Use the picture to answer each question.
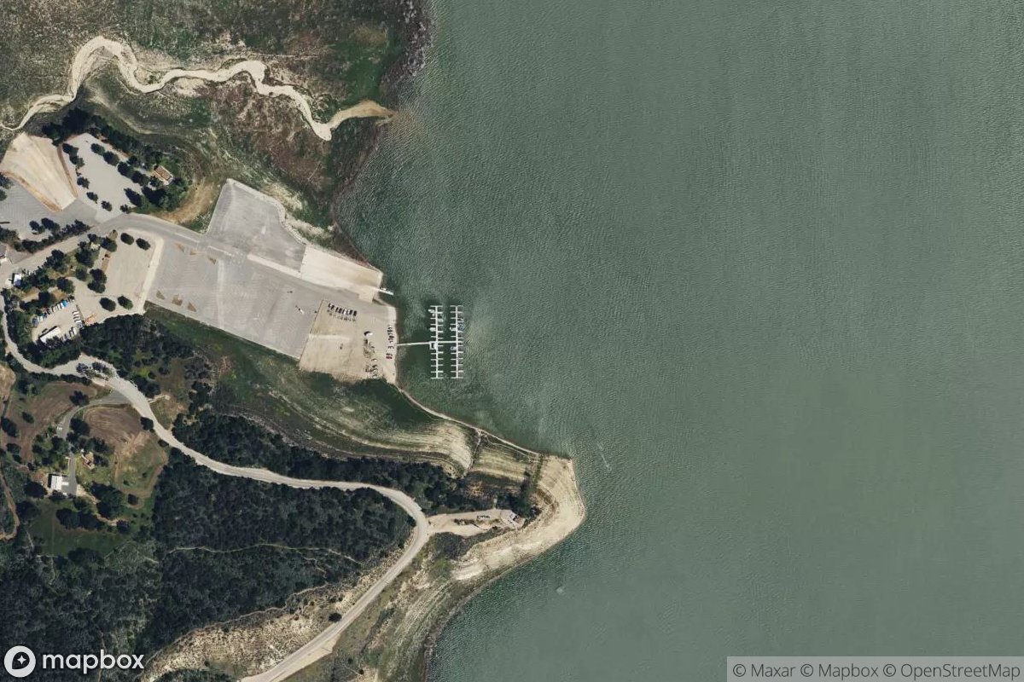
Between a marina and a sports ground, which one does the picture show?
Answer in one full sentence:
The picture captures a marina.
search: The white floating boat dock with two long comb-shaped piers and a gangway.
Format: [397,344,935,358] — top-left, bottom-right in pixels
[395,305,463,379]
